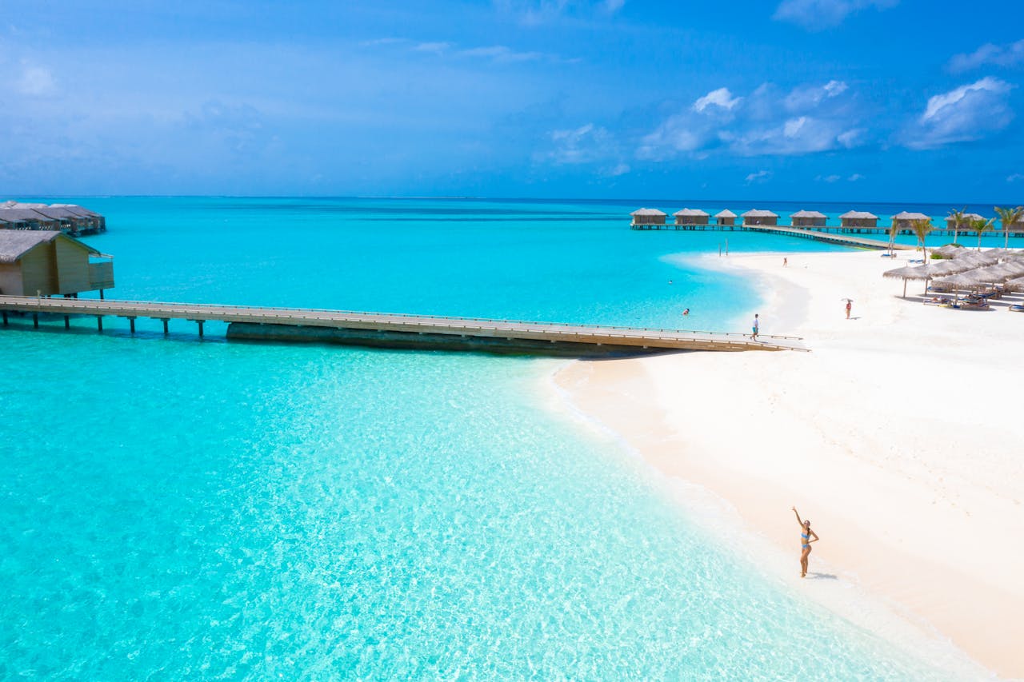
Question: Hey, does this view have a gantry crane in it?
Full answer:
No, the picture doesn't show any gantry crane.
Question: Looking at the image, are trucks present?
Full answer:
No, I can't see a single truck in this photo.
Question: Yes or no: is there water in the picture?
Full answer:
Yes, water shows up in the scene.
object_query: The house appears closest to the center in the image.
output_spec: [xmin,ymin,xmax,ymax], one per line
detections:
[628,209,669,231]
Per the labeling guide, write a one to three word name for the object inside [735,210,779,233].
house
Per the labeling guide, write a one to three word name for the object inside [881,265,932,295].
umbrella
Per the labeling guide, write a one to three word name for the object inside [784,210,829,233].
house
